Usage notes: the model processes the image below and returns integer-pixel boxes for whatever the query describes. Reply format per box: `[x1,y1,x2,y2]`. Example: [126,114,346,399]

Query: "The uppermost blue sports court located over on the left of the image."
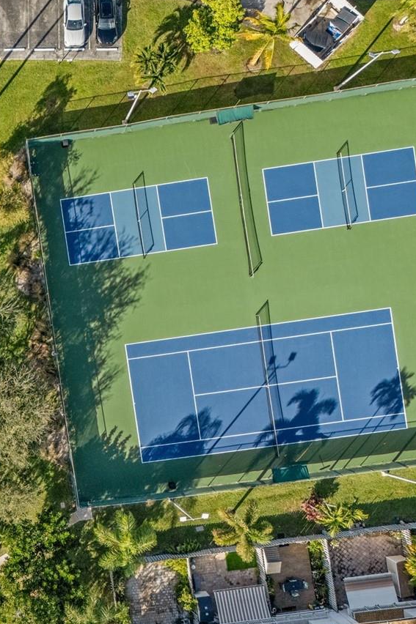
[62,177,219,266]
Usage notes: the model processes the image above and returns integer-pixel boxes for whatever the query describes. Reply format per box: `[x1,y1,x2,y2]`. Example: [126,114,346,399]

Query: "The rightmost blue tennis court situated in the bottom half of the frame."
[126,308,408,463]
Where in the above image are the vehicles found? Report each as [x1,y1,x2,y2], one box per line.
[62,0,89,47]
[95,0,123,46]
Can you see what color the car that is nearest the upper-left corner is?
white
